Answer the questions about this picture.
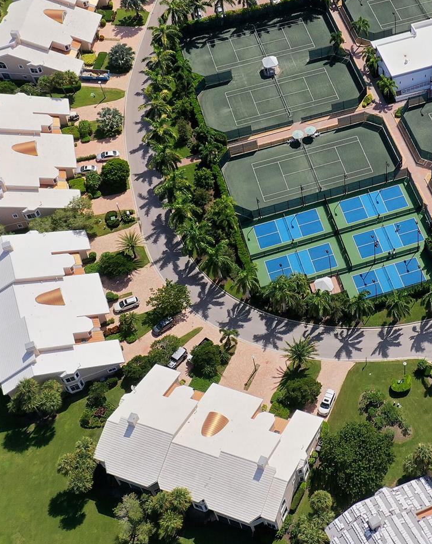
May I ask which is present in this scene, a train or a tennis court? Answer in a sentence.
I can see a tennis court in this picture.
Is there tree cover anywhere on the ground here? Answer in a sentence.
Yes, tree cover can be seen from above here.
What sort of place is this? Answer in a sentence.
This looks like a residential area.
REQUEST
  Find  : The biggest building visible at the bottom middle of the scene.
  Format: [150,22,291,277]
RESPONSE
[94,364,323,540]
